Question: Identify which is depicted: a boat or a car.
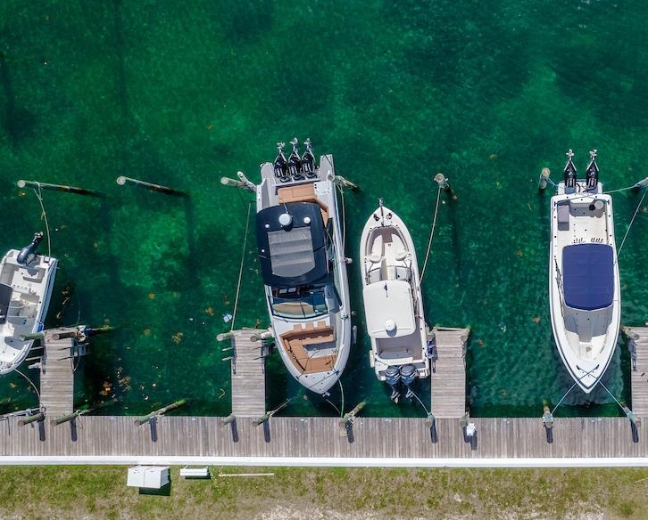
boat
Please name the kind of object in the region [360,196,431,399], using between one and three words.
boat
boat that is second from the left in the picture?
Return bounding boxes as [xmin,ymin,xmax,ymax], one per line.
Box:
[257,139,357,400]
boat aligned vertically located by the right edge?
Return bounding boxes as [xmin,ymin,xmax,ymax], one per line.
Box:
[549,151,622,394]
